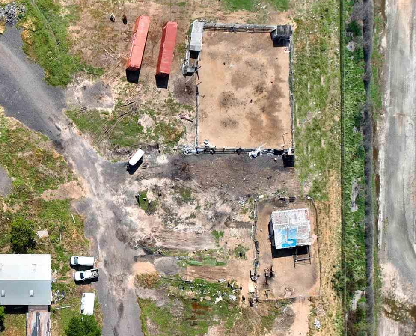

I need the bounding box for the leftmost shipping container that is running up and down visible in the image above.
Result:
[124,15,152,74]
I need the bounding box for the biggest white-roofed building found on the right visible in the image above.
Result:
[267,209,313,248]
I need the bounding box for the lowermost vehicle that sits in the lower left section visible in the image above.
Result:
[81,292,94,314]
